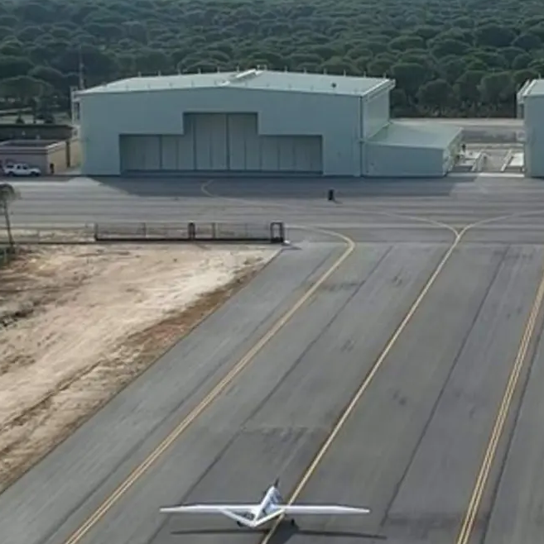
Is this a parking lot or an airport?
airport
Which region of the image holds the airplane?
bottom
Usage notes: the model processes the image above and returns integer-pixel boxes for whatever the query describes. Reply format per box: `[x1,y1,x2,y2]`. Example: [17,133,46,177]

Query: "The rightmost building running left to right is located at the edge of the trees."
[70,65,464,177]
